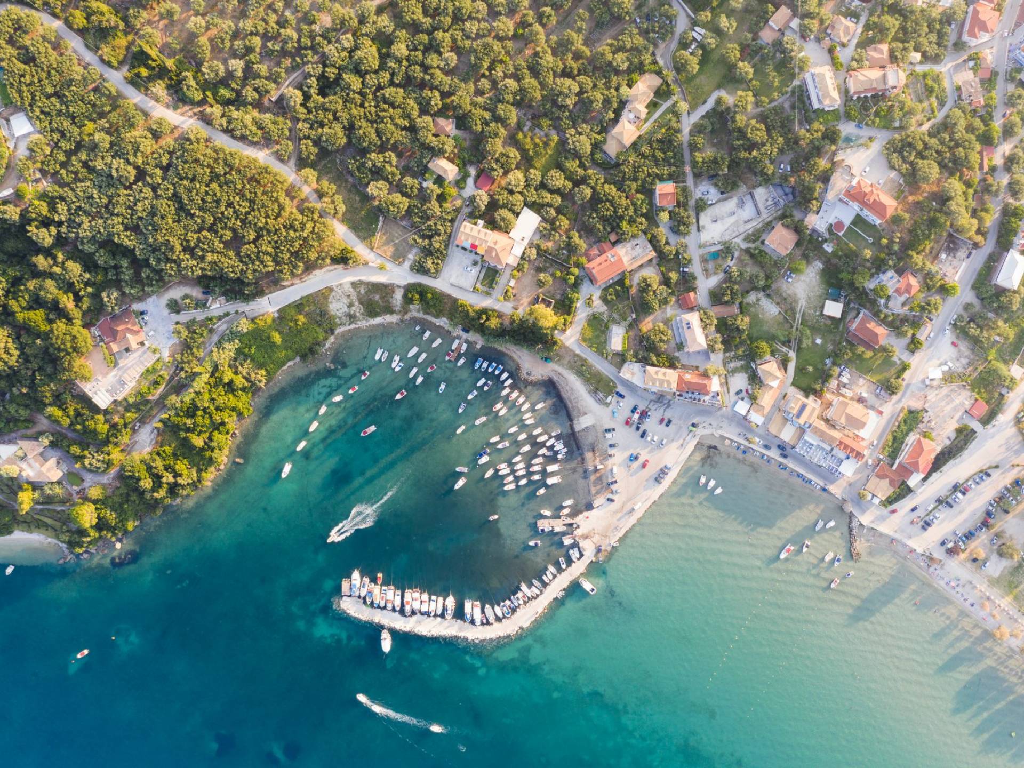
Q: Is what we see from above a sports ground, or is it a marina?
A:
marina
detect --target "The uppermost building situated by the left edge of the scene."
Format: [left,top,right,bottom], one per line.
[2,110,36,148]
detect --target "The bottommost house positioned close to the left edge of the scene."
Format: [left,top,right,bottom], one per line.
[0,439,70,482]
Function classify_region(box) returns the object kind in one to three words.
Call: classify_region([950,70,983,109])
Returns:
house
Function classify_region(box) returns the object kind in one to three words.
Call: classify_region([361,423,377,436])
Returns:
boat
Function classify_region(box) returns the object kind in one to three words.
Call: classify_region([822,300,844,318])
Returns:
shed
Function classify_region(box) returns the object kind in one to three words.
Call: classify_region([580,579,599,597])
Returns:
boat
